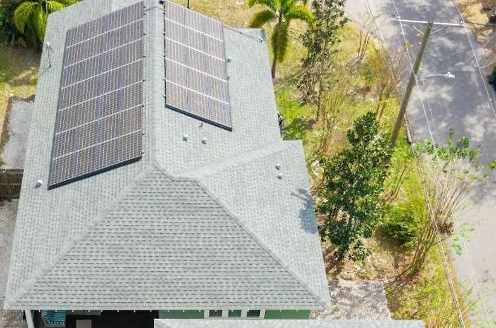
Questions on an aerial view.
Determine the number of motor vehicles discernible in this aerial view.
none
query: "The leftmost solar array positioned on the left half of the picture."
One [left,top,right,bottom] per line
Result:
[47,1,147,191]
